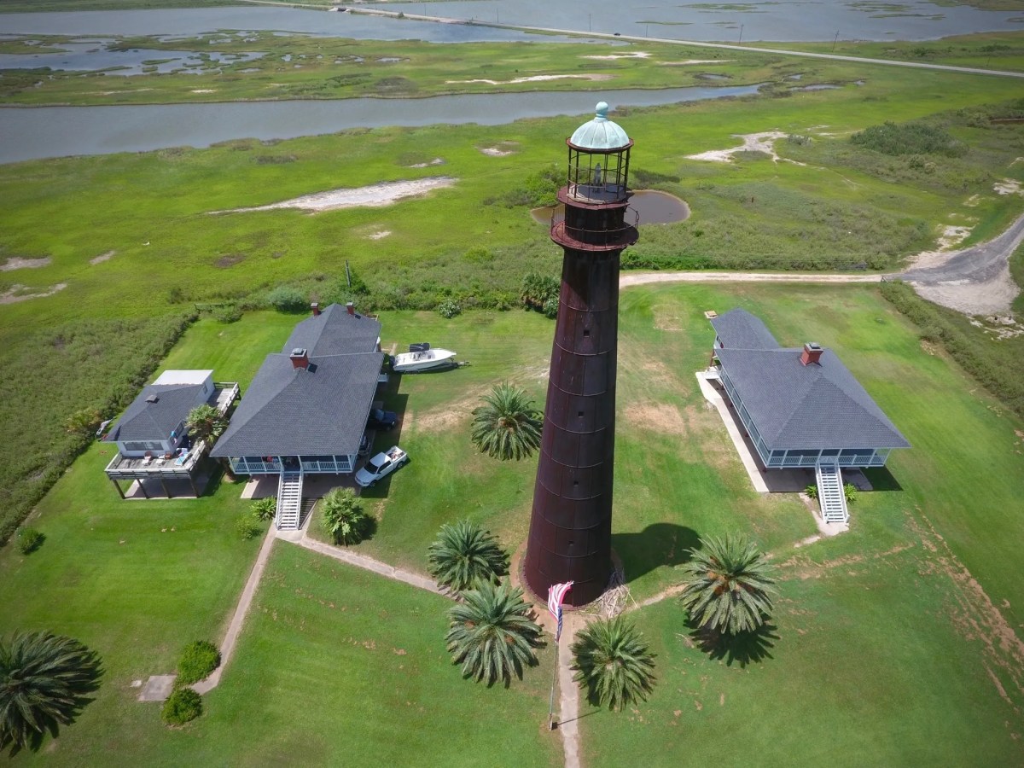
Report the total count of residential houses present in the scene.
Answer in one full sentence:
In total, 3 residential houses can be seen.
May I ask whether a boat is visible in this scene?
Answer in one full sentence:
Yes, a boat appears in the view.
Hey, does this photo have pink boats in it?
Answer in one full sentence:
No, this view has no pink boat in it.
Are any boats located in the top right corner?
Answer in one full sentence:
No, no boat can be made out in the top right corner.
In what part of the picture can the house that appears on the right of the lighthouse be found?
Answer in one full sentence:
You can find the house that appears on the right of the lighthouse in the right area of the picture.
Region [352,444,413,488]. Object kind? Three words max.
truck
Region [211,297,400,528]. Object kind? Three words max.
house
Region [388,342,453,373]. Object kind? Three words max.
boat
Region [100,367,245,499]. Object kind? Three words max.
house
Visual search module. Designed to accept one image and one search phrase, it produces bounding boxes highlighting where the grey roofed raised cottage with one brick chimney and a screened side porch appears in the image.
[701,304,912,523]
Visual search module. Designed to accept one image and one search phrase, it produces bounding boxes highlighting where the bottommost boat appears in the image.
[94,418,115,435]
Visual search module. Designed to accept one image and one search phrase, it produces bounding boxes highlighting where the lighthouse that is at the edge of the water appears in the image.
[519,98,638,627]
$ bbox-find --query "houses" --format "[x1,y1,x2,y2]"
[100,367,245,499]
[701,304,912,523]
[211,297,400,528]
